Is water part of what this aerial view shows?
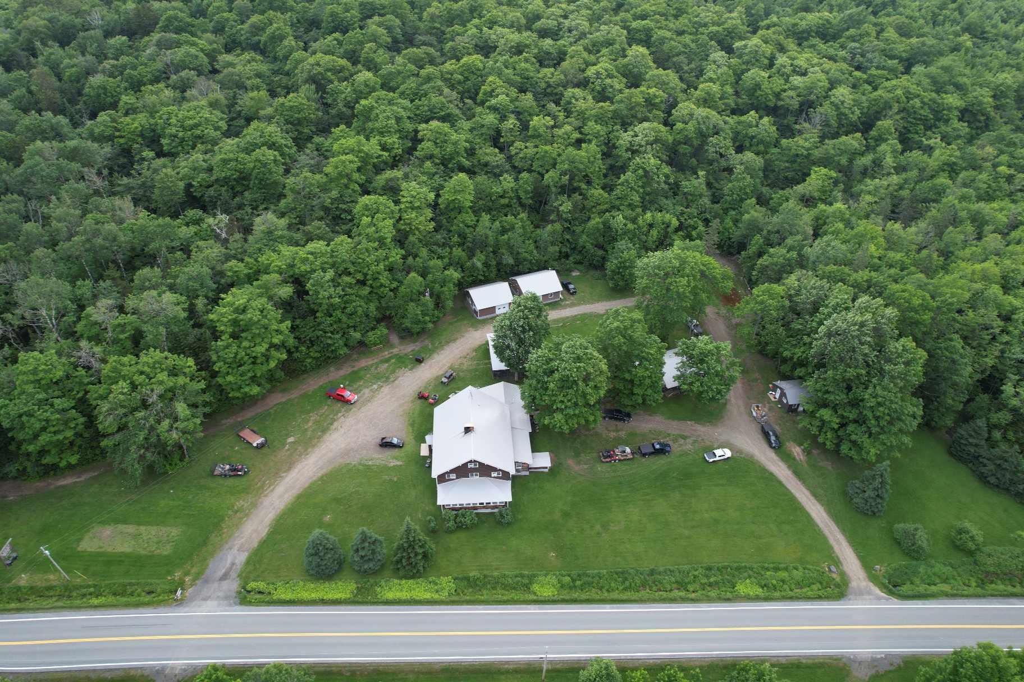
No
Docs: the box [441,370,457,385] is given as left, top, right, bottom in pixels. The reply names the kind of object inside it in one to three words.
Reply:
vehicle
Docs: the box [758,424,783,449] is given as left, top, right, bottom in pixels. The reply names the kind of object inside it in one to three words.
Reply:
truck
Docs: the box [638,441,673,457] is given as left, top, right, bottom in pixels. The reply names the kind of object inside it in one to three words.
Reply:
vehicle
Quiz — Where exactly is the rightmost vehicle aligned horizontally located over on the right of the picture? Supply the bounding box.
[703,448,733,463]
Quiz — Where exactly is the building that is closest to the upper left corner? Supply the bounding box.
[466,280,513,318]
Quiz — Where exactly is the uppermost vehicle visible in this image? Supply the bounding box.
[559,281,580,296]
